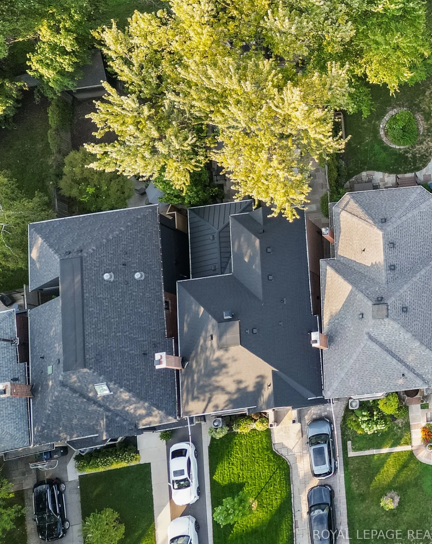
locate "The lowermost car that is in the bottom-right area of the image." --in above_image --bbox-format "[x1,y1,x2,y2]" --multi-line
[302,482,339,544]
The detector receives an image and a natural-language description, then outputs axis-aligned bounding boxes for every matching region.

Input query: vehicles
[302,482,339,544]
[164,514,198,544]
[303,417,338,481]
[166,440,201,507]
[27,474,69,544]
